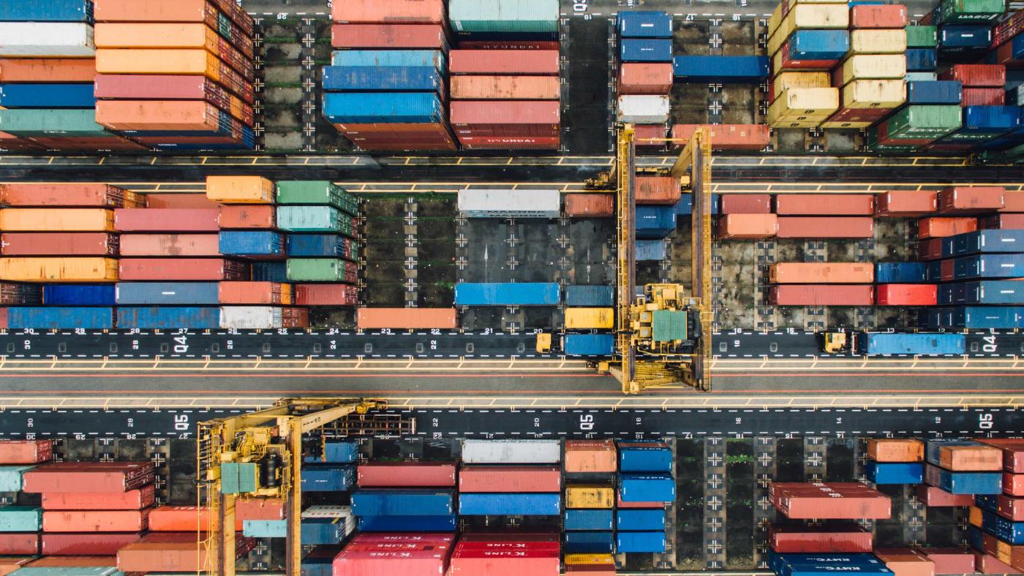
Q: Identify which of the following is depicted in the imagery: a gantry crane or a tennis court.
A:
gantry crane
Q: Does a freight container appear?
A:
Yes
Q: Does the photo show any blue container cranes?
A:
No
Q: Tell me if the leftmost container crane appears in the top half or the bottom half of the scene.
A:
bottom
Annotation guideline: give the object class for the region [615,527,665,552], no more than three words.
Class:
shipping container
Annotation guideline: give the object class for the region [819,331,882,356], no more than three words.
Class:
truck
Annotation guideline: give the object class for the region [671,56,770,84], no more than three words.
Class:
shipping container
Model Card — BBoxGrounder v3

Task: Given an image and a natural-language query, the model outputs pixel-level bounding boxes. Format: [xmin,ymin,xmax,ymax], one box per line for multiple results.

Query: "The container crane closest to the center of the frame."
[582,123,716,395]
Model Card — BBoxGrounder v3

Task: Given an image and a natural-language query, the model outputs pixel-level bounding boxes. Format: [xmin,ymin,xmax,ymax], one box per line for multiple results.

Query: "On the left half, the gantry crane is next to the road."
[187,399,394,576]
